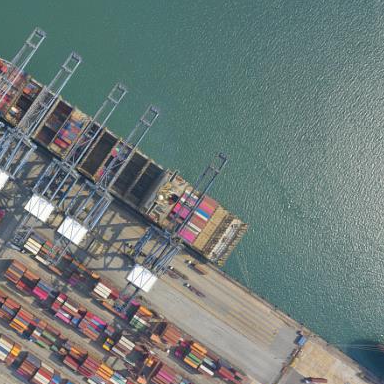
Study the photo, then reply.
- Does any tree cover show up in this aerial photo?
No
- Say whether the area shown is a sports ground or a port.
port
